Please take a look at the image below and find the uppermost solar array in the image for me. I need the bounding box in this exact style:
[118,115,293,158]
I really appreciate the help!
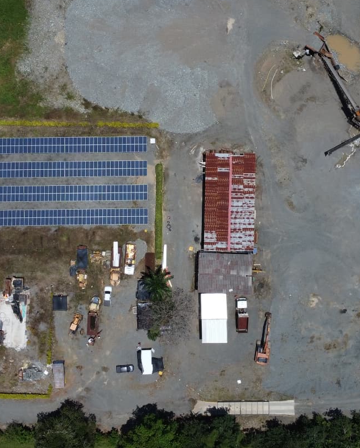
[0,137,147,153]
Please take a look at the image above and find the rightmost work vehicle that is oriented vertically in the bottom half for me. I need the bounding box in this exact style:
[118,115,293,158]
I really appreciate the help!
[258,313,272,366]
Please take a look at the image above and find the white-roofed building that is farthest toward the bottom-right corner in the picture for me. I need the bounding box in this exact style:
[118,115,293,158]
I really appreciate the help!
[201,293,228,343]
